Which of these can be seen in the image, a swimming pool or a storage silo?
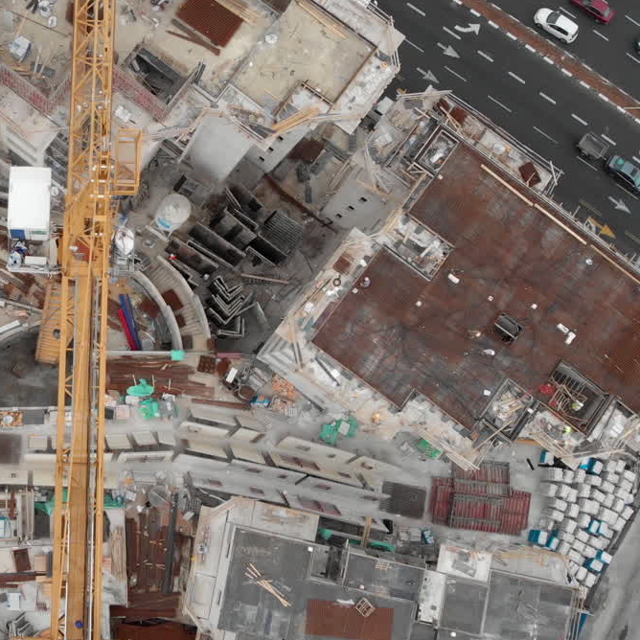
storage silo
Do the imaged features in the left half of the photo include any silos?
Yes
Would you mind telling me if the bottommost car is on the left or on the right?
right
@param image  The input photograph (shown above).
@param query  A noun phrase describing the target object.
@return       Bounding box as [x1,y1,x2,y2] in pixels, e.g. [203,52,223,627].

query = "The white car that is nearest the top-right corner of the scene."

[530,8,580,43]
